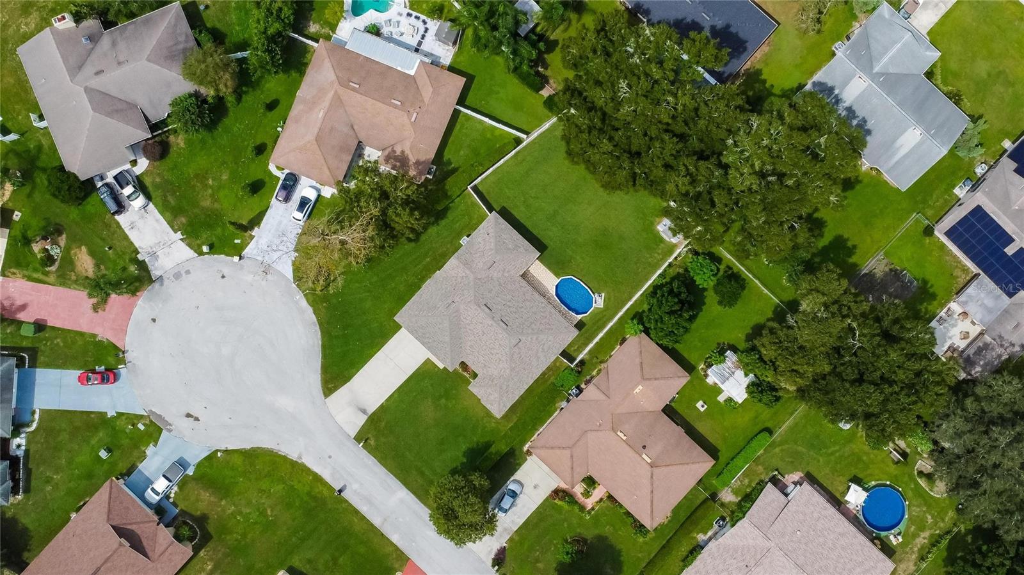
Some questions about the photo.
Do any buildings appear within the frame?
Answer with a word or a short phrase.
Yes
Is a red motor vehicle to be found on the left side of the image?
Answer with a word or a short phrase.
Yes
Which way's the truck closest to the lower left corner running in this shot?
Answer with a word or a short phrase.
at an angle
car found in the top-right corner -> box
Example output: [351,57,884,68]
[895,0,922,21]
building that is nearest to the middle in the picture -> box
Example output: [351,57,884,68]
[393,211,579,418]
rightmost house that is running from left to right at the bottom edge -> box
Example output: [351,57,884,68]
[681,481,896,575]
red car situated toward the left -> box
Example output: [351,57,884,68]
[78,370,117,387]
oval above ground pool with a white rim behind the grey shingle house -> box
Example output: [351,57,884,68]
[554,276,594,316]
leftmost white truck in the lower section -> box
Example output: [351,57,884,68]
[144,460,186,504]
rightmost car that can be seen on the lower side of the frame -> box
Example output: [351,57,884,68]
[497,479,522,517]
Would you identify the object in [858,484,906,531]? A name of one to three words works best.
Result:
swimming pool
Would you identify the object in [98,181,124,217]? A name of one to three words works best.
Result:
car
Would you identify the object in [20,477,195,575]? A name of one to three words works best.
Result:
house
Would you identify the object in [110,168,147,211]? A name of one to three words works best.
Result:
truck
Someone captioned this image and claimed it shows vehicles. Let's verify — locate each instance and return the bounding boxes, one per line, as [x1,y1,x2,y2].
[78,370,117,387]
[497,479,522,517]
[895,0,922,21]
[275,170,300,206]
[110,168,147,211]
[293,185,318,223]
[144,460,186,504]
[98,181,124,217]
